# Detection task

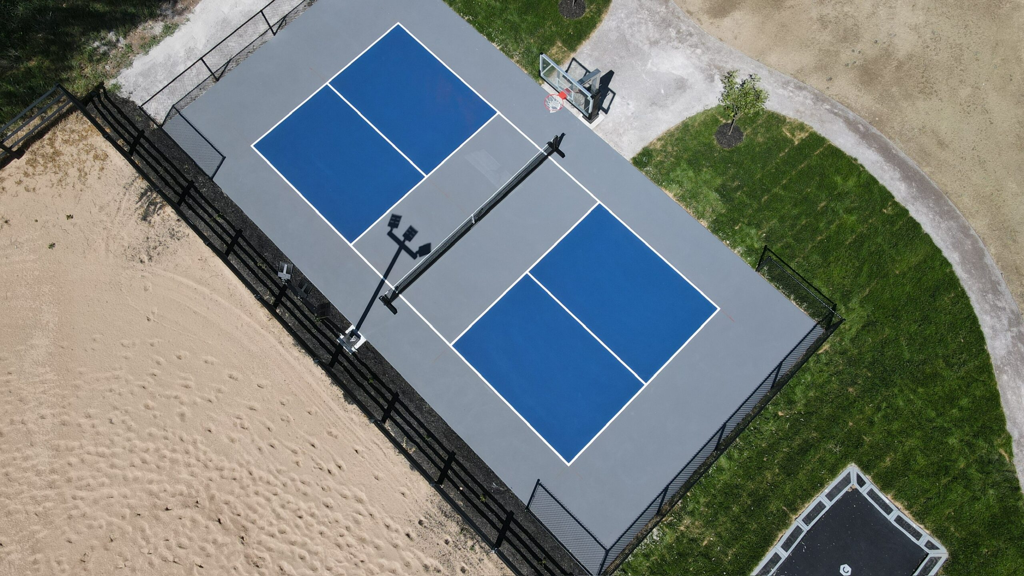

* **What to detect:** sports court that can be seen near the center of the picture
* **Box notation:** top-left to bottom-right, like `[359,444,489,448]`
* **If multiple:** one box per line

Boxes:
[161,0,821,576]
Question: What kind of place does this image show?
sports ground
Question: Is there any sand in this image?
Yes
